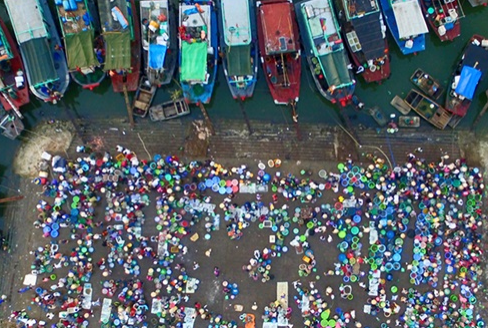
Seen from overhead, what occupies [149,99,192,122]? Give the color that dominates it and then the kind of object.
gray boat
